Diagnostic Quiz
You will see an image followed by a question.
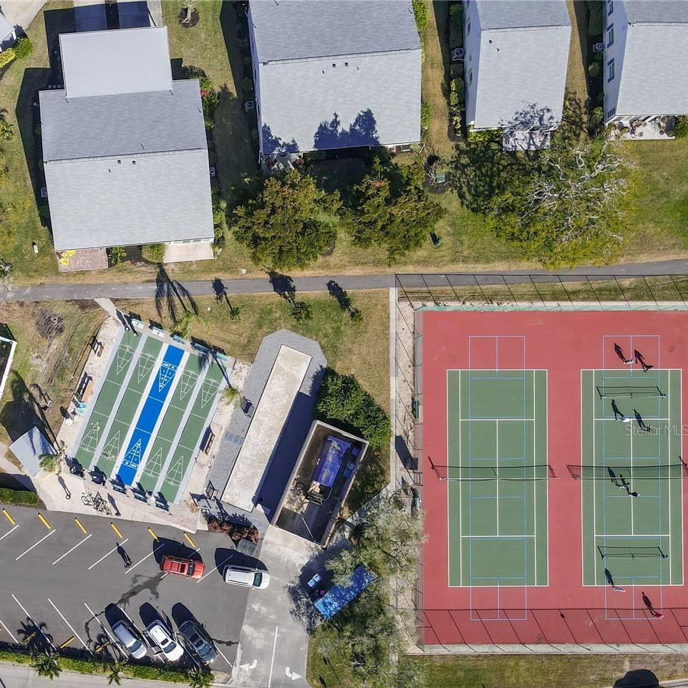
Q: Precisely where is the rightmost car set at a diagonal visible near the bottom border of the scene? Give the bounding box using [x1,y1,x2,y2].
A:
[179,622,219,665]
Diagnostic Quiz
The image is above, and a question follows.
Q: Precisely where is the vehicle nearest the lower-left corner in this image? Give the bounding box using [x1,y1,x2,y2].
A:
[111,620,149,661]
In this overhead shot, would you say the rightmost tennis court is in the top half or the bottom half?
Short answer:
bottom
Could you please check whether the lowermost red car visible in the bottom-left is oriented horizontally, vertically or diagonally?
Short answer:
horizontally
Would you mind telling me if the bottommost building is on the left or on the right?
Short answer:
left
